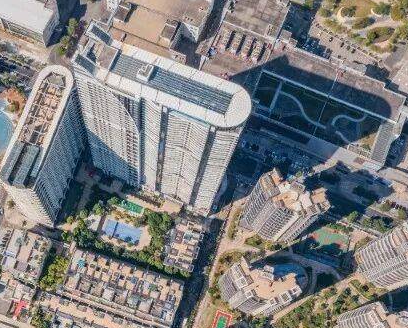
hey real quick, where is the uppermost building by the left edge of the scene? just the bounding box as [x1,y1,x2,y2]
[0,0,62,55]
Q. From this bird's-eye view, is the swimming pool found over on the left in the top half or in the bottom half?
bottom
